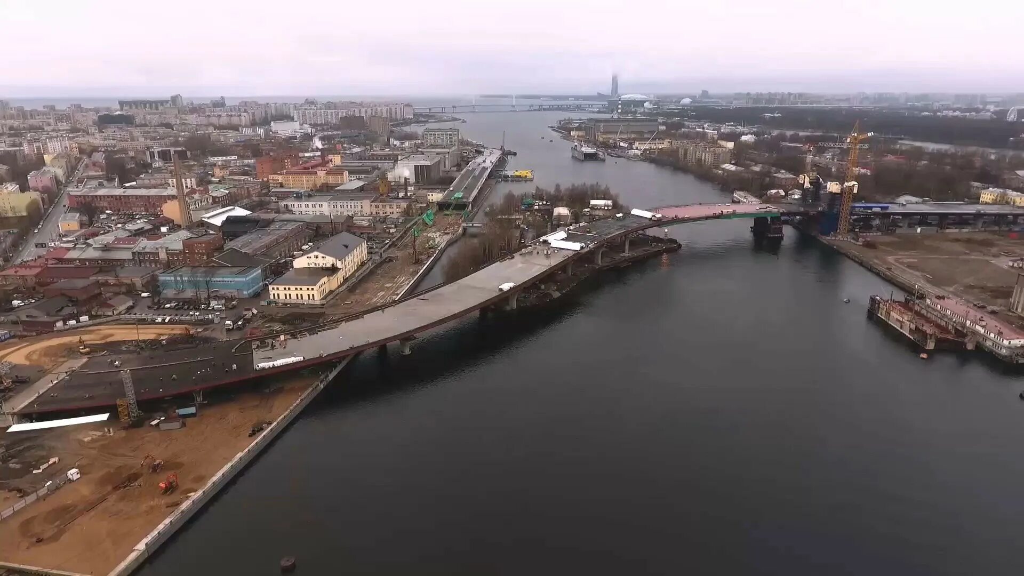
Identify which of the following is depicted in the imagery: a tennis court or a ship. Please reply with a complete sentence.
Visible in the photo is a ship.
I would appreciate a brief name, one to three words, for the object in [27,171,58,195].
building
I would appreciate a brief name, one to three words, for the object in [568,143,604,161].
ship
